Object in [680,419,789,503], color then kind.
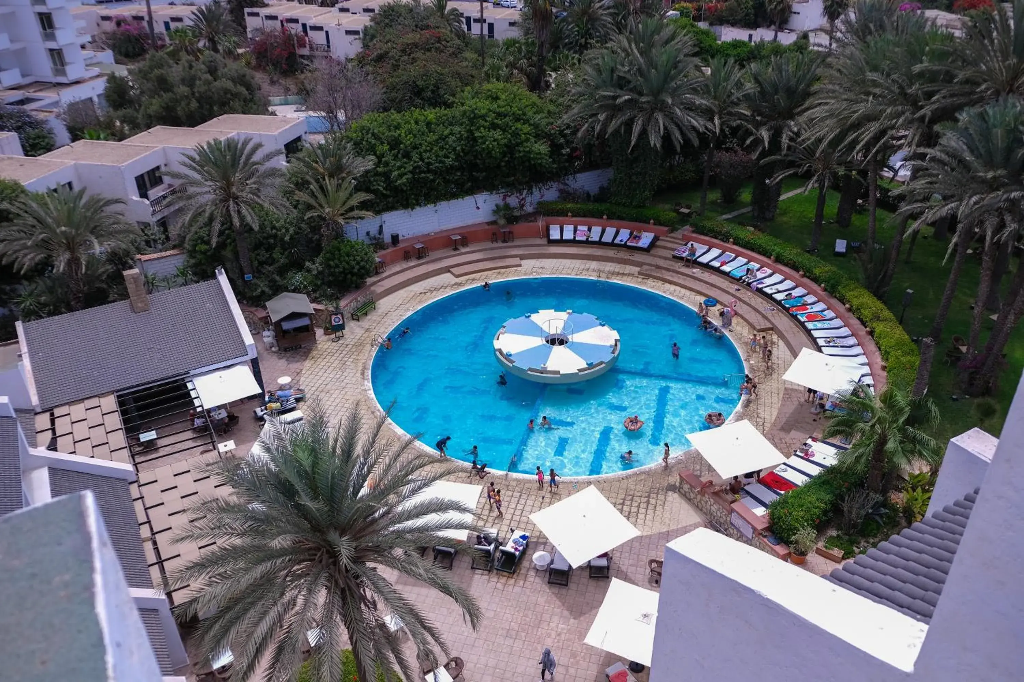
white umbrella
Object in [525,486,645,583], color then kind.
white umbrella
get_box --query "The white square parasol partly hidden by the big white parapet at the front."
[569,573,661,682]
